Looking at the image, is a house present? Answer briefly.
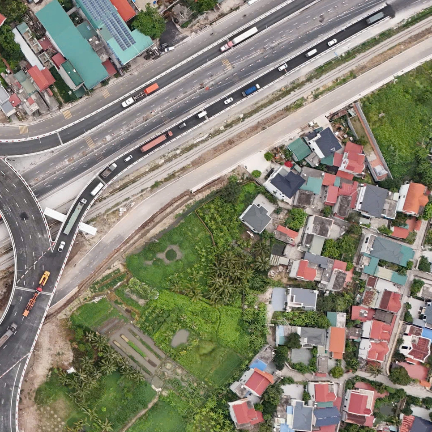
Yes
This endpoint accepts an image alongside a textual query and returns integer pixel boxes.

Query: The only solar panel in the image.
[85,0,135,51]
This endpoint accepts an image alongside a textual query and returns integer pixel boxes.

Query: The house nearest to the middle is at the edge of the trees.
[238,204,273,234]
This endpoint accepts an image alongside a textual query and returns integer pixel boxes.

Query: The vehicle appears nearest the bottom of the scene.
[0,322,17,348]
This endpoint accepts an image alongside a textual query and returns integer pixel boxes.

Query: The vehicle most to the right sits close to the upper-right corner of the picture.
[364,9,387,26]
